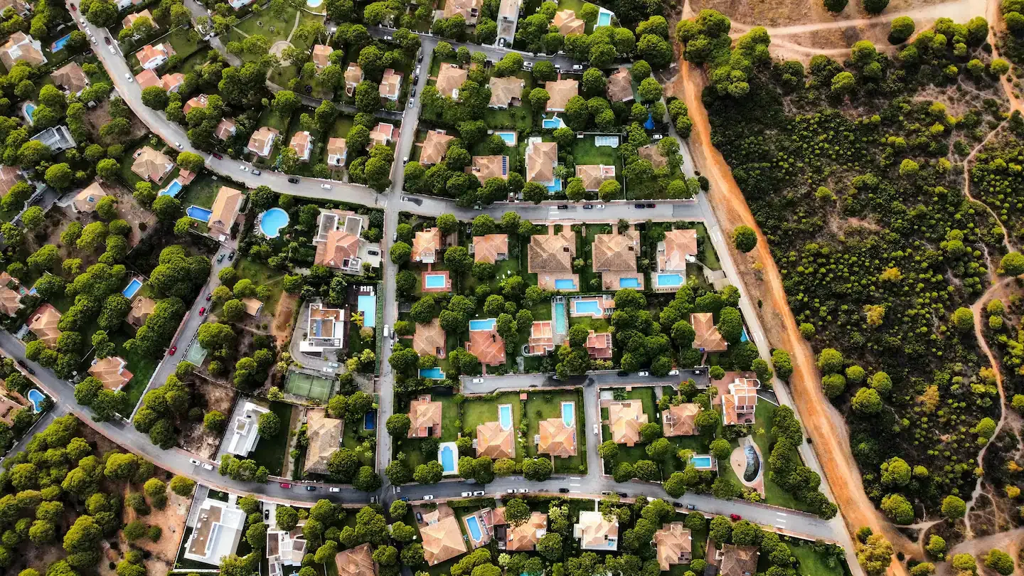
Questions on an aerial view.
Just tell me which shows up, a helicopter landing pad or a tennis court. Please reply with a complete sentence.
The one in the frame is a tennis court.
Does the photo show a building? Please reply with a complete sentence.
Yes, I can see a building in this picture.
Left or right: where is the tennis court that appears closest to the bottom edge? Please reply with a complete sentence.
It is on the left.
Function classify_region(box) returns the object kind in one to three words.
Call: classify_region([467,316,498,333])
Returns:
swimming pool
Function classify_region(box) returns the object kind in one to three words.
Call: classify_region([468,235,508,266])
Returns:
house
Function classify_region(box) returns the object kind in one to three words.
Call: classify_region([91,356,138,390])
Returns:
house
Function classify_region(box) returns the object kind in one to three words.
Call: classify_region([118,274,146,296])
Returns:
swimming pool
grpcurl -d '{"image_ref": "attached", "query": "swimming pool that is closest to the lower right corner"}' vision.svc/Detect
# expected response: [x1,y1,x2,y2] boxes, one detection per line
[735,435,771,490]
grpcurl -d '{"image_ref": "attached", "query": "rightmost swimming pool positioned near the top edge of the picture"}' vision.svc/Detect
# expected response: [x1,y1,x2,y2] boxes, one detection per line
[592,7,615,29]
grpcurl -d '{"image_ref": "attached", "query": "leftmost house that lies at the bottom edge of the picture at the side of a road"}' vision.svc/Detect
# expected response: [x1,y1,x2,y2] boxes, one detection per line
[185,494,245,566]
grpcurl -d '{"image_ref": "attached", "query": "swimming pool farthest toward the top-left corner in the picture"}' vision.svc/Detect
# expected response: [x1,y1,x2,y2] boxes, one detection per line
[47,31,69,56]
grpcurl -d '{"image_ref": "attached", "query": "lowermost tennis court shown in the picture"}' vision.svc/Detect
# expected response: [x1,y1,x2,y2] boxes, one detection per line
[283,369,334,402]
